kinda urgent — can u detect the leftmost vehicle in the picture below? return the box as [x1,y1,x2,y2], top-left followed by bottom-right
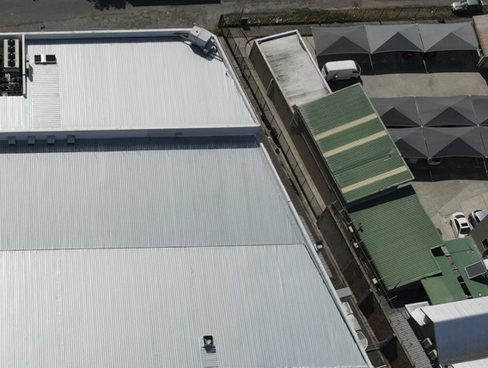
[320,61,357,82]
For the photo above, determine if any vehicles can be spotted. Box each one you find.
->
[320,61,357,82]
[401,52,415,61]
[424,46,442,61]
[449,1,483,16]
[463,207,486,228]
[424,142,442,168]
[444,211,471,239]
